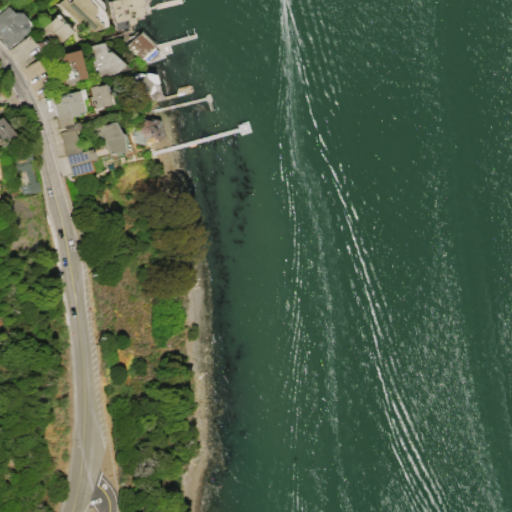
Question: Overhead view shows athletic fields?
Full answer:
No, this view has no athletic field in it.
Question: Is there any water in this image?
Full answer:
Yes, there is water in the image.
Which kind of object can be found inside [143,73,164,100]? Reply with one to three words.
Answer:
house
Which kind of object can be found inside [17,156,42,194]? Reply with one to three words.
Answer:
house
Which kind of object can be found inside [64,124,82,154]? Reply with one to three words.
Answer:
building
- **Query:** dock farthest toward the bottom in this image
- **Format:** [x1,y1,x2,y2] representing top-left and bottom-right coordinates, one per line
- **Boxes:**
[152,121,252,156]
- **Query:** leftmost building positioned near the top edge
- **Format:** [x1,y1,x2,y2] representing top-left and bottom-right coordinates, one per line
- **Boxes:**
[0,7,32,48]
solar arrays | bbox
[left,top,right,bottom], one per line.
[72,163,93,176]
[70,153,89,164]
